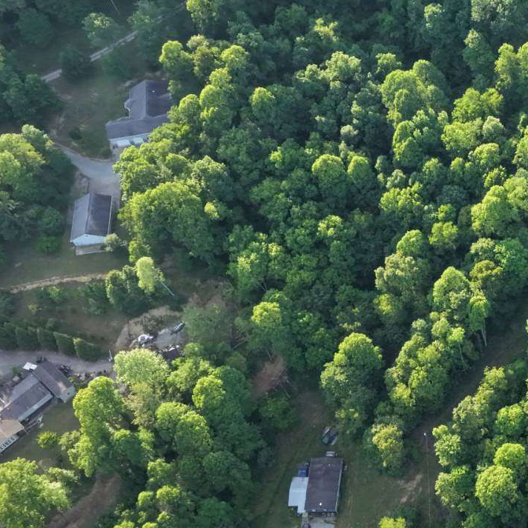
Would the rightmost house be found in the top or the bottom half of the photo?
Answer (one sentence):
It is in the bottom half that the rightmost house appears.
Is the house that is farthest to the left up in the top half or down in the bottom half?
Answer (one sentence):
The house that is farthest to the left is in the bottom half of the image.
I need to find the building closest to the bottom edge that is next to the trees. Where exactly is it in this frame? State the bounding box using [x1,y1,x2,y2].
[289,459,345,521]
